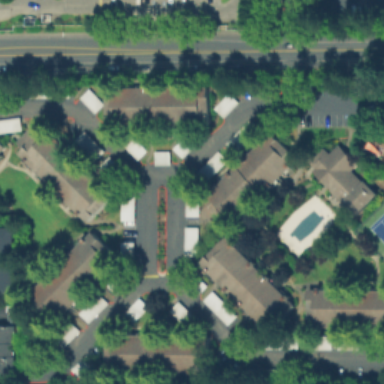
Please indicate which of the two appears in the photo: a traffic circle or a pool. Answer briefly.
pool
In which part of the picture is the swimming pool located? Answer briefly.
right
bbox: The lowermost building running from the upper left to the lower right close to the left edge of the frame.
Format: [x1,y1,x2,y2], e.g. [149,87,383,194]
[16,132,102,222]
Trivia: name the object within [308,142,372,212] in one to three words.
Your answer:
building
